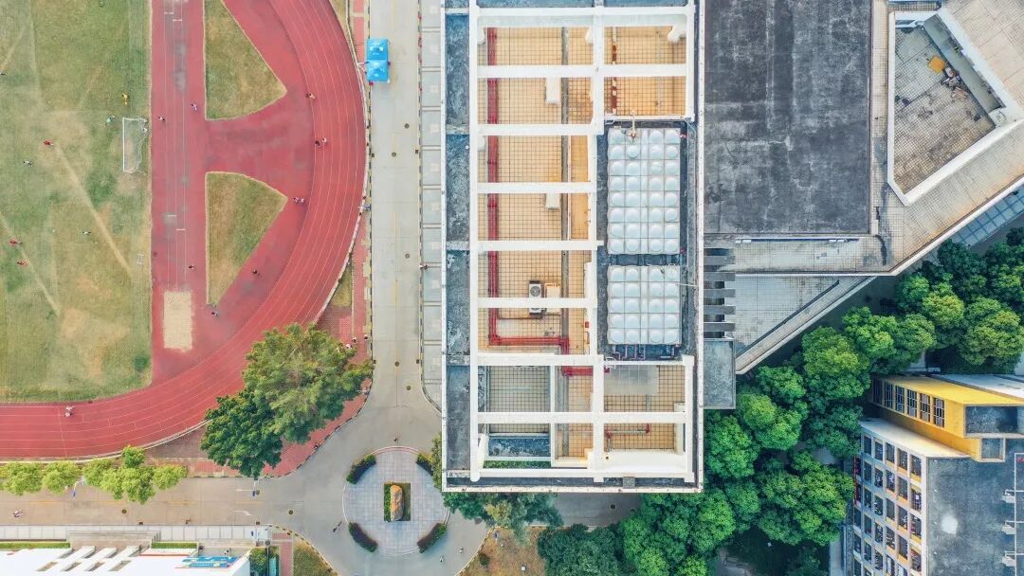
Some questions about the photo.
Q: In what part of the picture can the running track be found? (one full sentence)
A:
The running track is in the left part of the image.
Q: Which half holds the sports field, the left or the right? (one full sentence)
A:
It is on the left.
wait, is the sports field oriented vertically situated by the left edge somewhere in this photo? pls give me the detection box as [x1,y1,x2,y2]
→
[0,0,149,401]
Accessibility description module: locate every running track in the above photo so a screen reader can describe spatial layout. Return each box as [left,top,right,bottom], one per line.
[0,0,368,462]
